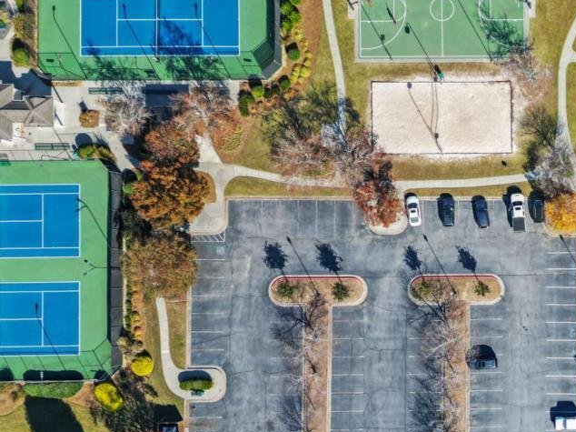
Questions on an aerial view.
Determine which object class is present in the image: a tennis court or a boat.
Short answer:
tennis court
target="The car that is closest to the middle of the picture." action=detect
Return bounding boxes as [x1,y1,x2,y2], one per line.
[405,194,421,227]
